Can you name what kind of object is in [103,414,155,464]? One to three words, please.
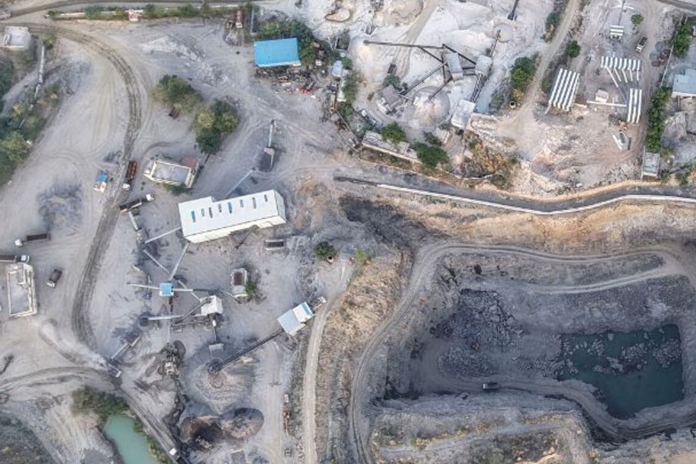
pond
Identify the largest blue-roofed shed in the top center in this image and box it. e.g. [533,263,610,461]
[255,38,304,73]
